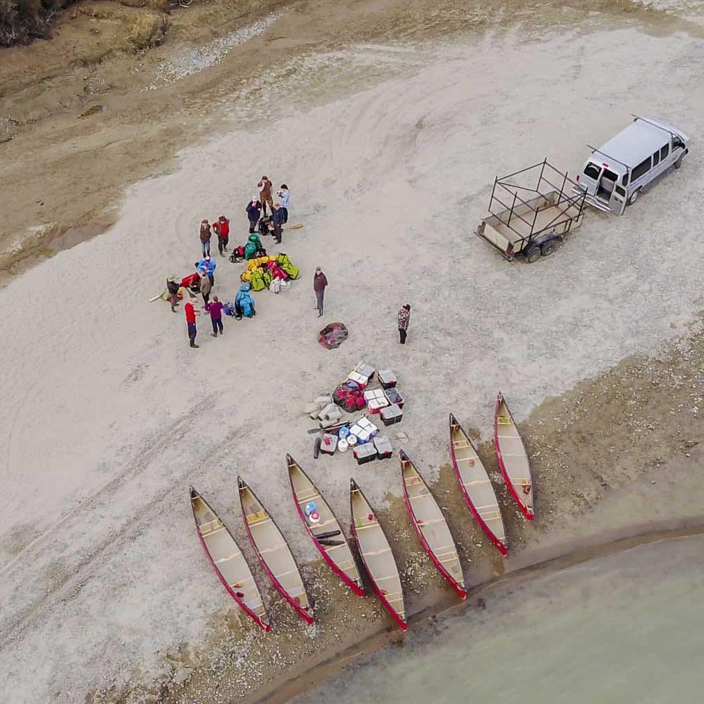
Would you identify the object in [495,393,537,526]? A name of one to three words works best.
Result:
boat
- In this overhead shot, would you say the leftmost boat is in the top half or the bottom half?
bottom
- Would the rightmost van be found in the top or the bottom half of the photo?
top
